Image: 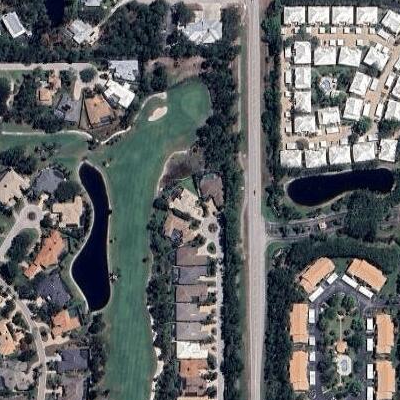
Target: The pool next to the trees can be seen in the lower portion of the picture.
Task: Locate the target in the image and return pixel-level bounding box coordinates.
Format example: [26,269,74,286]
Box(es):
[337,355,351,375]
